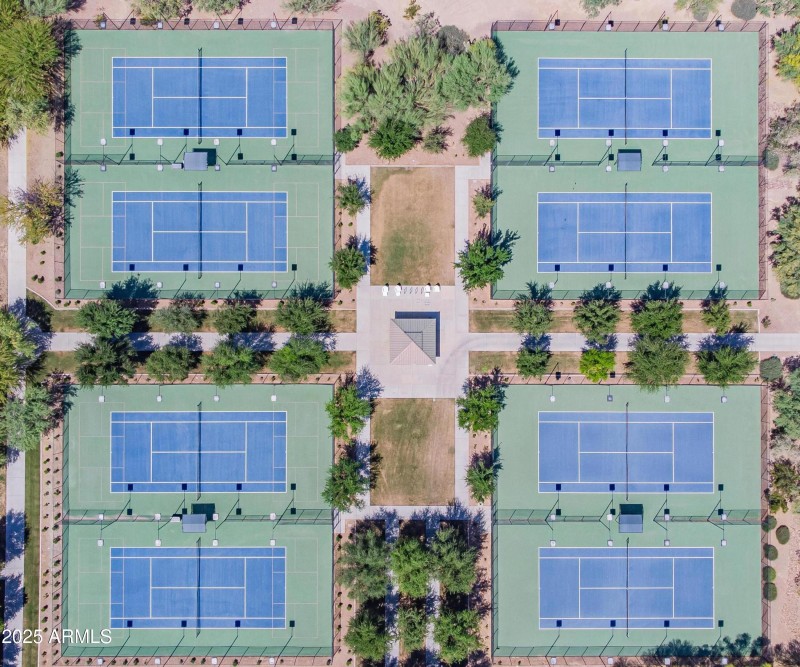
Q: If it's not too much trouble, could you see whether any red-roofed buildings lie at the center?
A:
No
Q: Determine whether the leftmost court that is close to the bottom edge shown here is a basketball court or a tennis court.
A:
tennis court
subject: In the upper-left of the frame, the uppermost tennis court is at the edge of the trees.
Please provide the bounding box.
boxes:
[63,30,334,165]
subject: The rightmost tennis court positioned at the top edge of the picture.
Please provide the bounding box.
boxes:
[491,31,759,165]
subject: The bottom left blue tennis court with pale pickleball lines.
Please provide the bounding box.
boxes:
[62,521,333,656]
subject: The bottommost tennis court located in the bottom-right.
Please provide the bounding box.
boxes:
[492,521,761,656]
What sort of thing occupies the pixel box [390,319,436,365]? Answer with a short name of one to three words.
building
